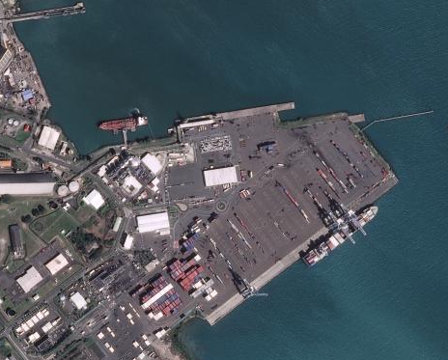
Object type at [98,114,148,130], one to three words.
ship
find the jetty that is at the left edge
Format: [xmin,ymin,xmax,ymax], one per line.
[10,2,87,22]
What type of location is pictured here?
port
